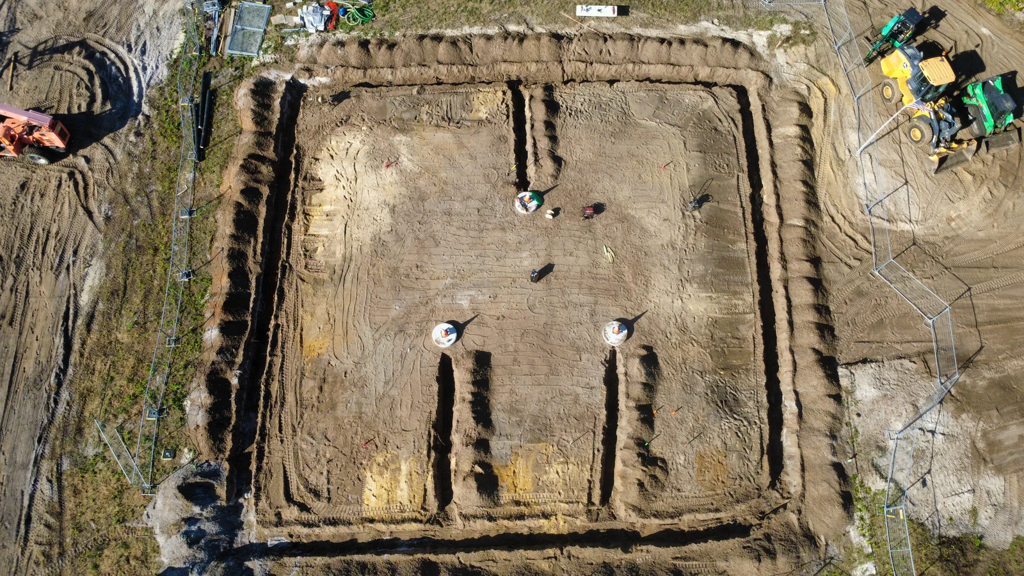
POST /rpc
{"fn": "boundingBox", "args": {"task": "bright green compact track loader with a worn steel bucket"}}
[960,76,1022,155]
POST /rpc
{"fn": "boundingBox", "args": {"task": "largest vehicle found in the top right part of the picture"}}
[872,45,972,177]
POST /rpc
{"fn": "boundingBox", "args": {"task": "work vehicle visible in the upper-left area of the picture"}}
[0,104,66,164]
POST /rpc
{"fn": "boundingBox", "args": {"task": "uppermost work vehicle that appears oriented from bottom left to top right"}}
[861,6,929,62]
